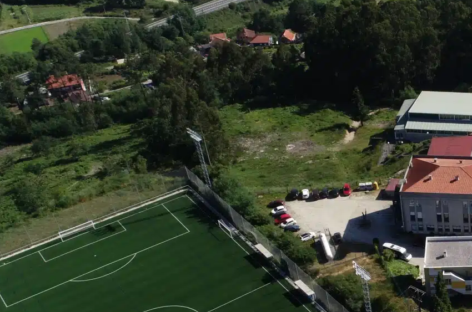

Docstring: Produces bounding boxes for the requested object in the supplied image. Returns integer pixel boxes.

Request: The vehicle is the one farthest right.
[383,240,412,259]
